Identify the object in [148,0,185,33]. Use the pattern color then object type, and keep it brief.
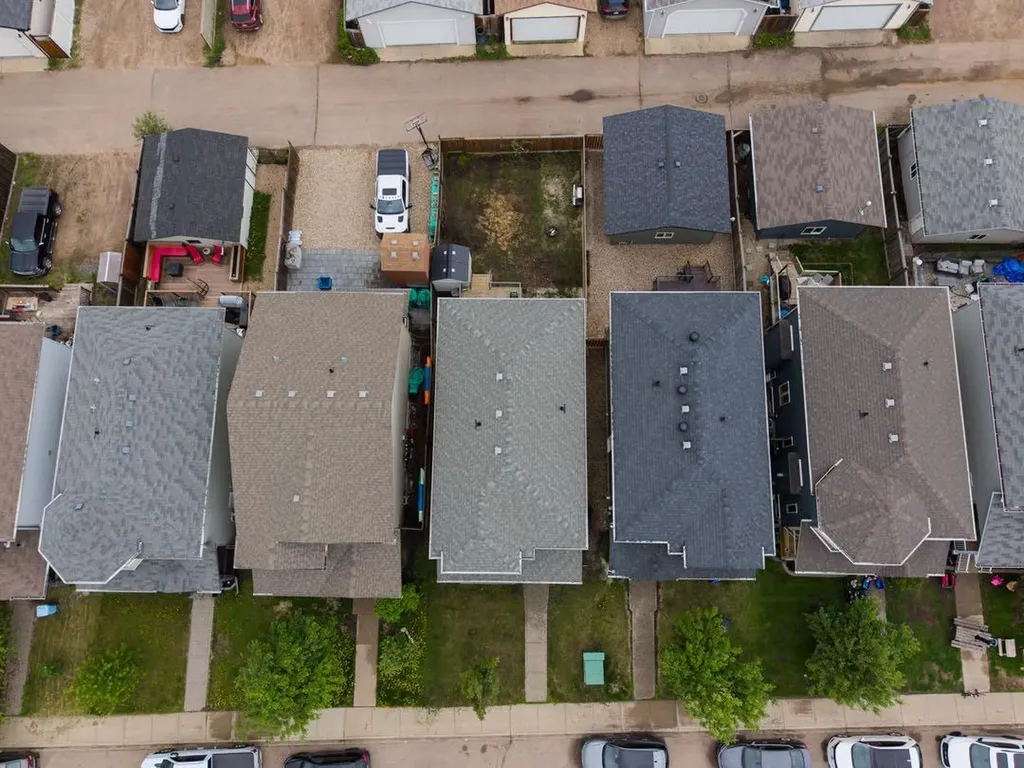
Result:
white car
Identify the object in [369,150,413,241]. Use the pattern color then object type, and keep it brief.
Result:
white truck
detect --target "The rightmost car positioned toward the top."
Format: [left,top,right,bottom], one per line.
[600,0,628,20]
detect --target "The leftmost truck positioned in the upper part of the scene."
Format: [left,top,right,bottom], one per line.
[3,190,62,280]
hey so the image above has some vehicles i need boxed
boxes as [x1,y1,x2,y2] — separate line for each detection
[231,0,262,32]
[715,737,807,768]
[583,734,666,768]
[0,747,46,768]
[3,190,62,280]
[825,731,918,768]
[285,748,370,768]
[939,730,1024,768]
[369,150,413,241]
[600,0,628,20]
[148,0,185,33]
